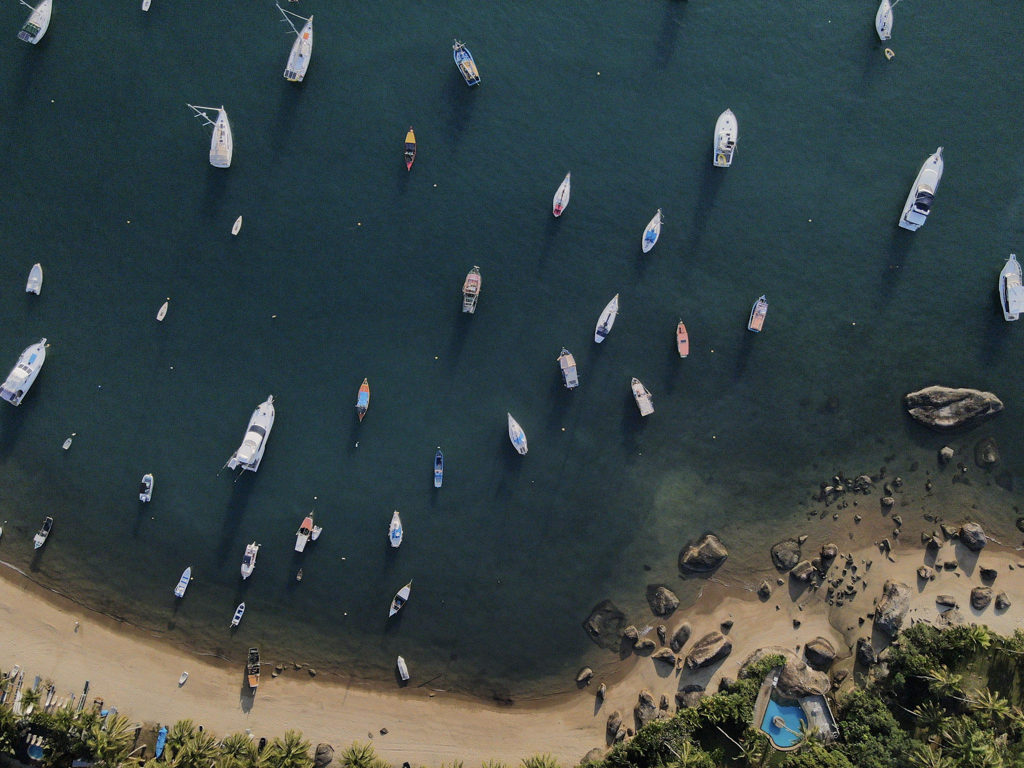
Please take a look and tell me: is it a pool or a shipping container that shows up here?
pool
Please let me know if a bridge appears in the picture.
No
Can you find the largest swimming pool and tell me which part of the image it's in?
bottom right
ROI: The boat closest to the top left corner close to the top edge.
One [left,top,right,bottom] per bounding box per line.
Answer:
[10,0,56,46]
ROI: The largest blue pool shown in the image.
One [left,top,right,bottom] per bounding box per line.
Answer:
[757,686,809,752]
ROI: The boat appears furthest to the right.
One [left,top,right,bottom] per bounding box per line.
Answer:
[996,254,1024,321]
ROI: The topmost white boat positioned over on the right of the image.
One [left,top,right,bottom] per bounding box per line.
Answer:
[874,0,905,44]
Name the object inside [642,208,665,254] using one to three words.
boat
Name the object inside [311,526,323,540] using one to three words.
boat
